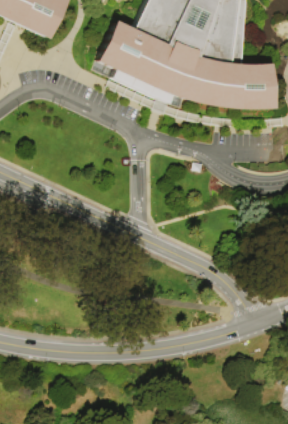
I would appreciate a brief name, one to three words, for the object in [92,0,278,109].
building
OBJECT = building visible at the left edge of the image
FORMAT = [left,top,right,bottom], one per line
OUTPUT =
[0,0,68,38]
